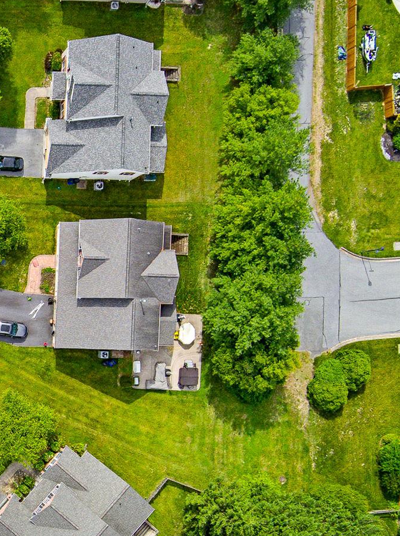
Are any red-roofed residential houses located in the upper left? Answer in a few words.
No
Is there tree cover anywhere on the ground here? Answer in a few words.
Yes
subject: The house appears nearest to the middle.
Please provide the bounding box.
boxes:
[52,217,184,353]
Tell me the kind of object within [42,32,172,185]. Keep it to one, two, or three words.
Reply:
house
